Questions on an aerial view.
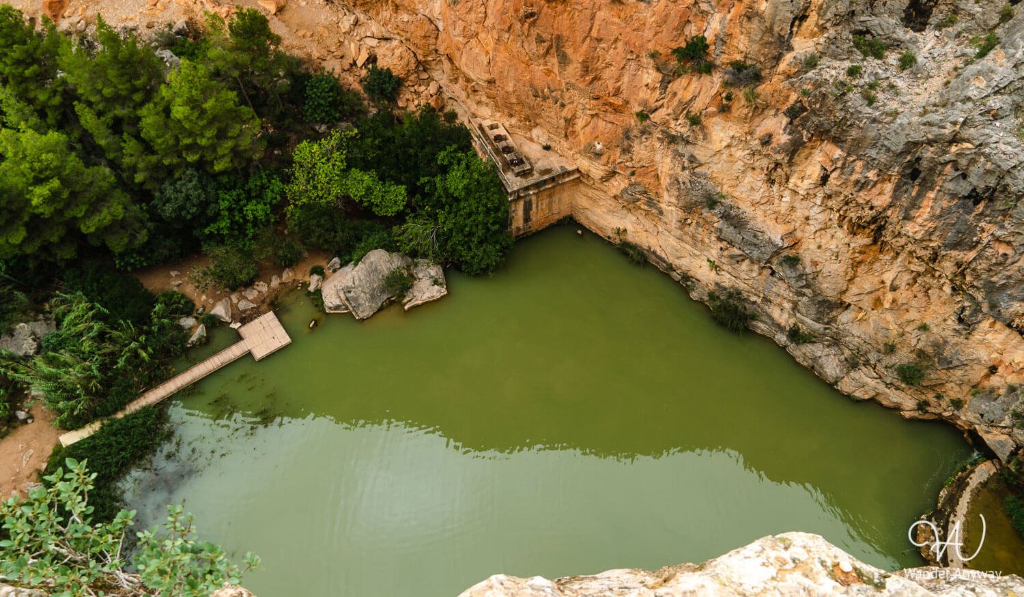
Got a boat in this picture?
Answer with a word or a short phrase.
No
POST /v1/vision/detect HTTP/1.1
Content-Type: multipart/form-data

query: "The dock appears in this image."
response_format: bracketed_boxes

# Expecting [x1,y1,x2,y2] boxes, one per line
[61,311,292,446]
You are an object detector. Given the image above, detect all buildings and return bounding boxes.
[462,110,576,234]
